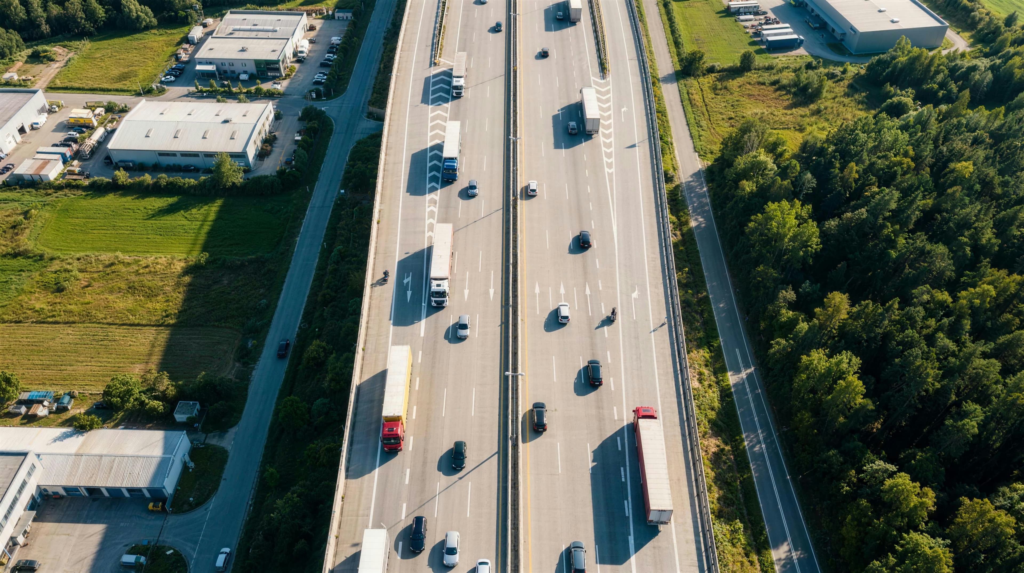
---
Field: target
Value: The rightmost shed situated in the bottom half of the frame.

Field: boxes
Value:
[173,400,202,424]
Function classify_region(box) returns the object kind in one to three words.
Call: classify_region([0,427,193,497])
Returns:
building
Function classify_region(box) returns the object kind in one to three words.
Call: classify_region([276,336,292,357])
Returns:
car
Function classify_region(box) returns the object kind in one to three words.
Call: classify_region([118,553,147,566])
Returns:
vehicle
